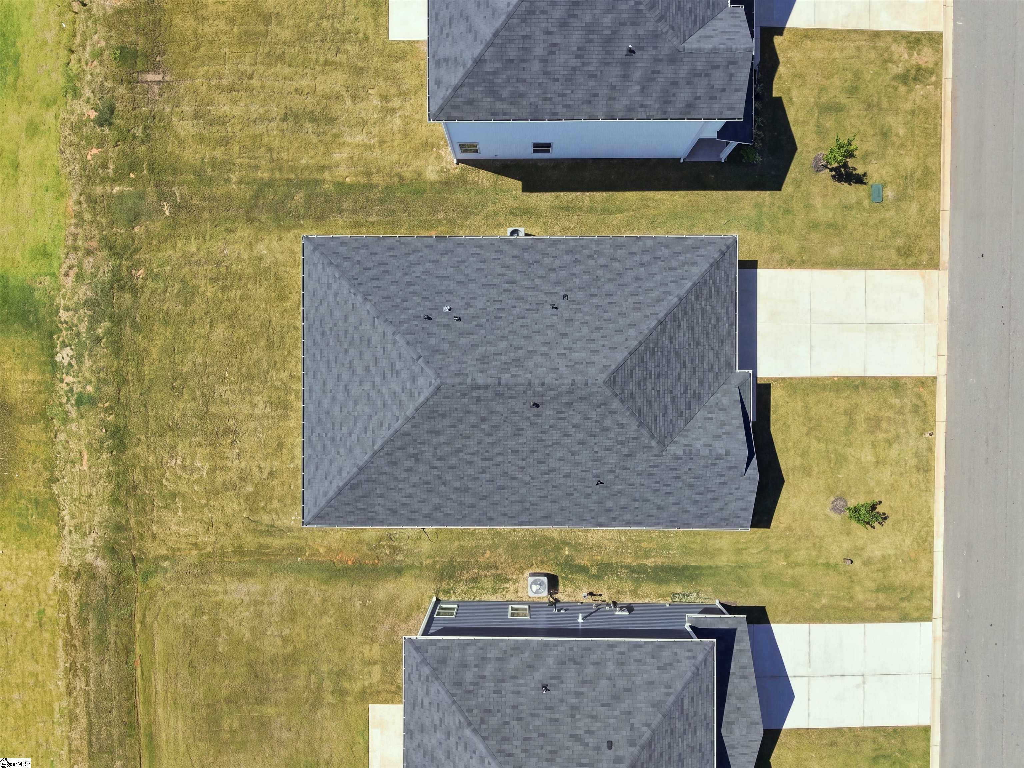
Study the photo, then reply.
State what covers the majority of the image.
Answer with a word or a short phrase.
grass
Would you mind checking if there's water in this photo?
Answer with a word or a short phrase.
No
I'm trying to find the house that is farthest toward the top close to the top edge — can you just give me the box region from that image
[428,0,758,164]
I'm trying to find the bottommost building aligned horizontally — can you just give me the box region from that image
[403,591,764,768]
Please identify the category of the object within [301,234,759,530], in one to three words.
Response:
house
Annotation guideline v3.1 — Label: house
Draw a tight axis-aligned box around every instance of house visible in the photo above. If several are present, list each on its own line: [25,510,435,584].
[403,591,764,768]
[428,0,758,164]
[301,234,759,530]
